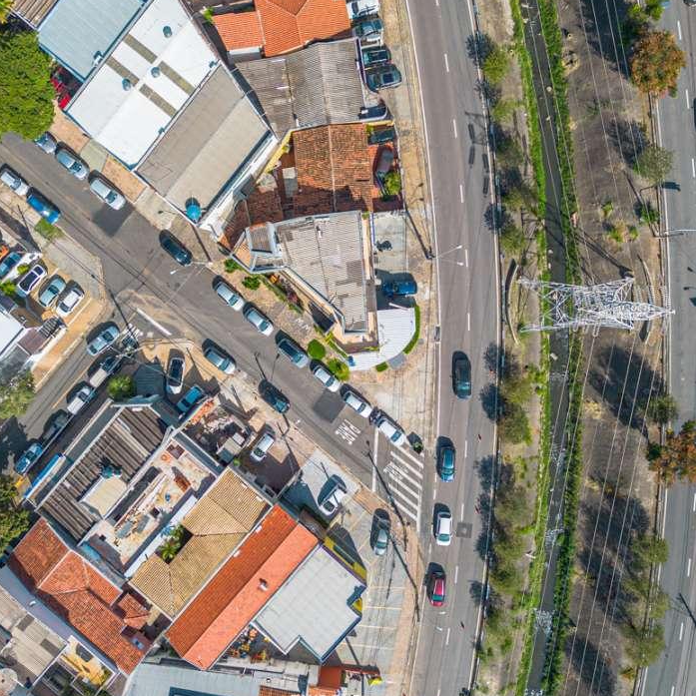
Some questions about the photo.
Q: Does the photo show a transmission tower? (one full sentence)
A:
Yes, the image includes a transmission tower.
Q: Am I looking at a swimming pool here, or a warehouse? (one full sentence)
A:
Of the two, only a warehouse appears.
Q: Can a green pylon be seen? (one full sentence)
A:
No, the scene contains no green pylon.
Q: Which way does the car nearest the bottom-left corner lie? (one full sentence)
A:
The car nearest the bottom-left corner is laid out on a diagonal.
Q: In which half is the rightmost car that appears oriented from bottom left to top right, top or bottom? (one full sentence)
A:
The bottom half of the photo is where the rightmost car that appears oriented from bottom left to top right is.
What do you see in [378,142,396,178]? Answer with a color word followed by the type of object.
gray car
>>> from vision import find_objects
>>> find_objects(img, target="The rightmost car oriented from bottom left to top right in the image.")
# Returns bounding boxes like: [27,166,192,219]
[318,477,347,514]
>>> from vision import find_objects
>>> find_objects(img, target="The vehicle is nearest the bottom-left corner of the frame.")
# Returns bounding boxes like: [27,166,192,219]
[13,442,43,474]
